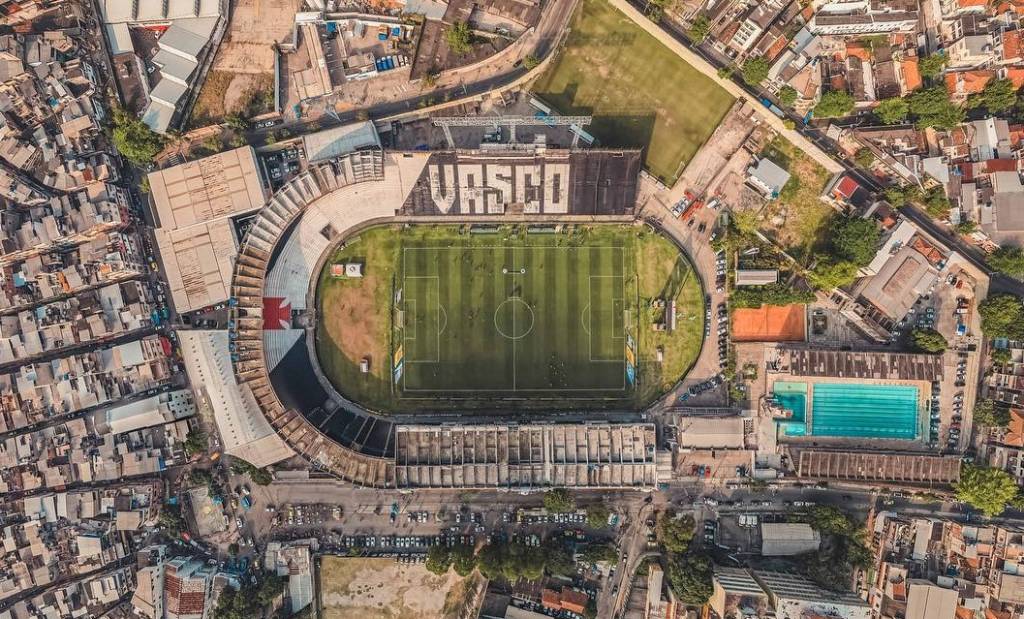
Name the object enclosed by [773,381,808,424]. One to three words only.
swimming pool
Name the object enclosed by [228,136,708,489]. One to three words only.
stadium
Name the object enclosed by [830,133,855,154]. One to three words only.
house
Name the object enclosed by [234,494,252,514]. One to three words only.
vehicle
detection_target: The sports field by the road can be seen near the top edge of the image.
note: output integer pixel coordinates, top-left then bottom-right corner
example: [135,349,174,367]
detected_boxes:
[534,0,736,186]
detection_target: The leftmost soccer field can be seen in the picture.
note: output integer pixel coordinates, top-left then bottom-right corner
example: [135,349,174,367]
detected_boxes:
[400,242,629,400]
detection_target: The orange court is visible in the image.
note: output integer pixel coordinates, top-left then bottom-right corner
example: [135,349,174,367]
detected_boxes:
[734,304,800,341]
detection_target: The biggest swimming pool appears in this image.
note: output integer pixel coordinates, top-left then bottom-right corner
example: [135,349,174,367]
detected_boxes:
[768,376,932,451]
